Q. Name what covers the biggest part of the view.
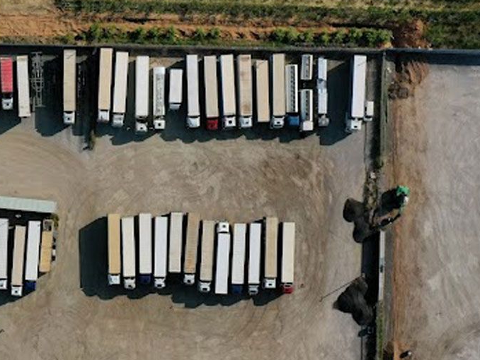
paved ground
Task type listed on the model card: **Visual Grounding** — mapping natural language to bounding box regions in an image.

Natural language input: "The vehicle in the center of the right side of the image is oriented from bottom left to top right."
[378,181,413,215]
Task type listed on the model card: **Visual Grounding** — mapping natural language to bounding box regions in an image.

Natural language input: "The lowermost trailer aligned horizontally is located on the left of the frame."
[0,197,55,213]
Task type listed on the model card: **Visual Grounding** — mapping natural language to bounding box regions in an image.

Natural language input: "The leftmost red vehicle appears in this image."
[1,56,14,112]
